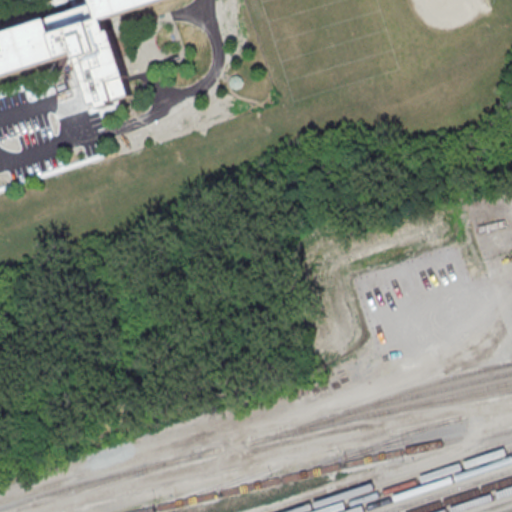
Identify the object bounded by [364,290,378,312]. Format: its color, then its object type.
white vehicle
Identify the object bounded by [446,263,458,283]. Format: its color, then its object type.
white vehicle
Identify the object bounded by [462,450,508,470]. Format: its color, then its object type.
white rail car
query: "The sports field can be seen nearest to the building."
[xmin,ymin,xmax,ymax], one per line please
[261,0,400,103]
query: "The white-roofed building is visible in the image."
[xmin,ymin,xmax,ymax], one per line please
[0,0,178,118]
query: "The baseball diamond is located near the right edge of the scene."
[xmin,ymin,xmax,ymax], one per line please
[411,0,492,31]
